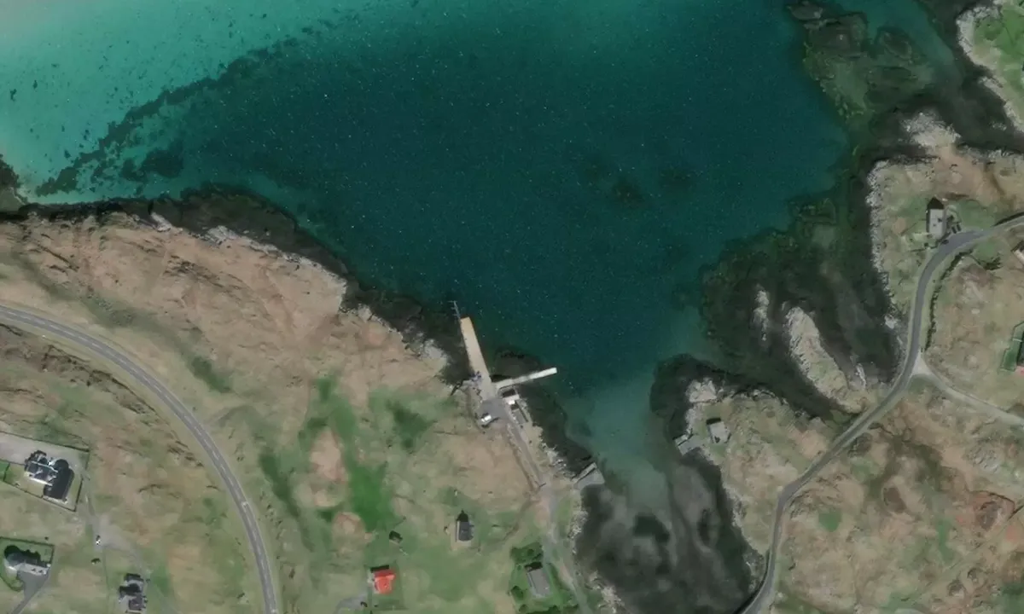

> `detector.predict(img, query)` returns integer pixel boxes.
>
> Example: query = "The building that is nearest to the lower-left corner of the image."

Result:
[2,551,48,576]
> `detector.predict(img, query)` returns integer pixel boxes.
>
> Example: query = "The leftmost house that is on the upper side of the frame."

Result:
[927,208,942,238]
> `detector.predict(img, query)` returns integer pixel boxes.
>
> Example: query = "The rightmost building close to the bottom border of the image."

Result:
[526,569,550,598]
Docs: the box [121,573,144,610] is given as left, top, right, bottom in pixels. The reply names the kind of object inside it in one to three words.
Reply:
house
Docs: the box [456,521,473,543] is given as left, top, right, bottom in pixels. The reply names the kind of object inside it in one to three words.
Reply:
house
